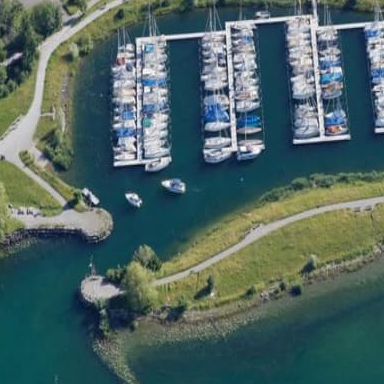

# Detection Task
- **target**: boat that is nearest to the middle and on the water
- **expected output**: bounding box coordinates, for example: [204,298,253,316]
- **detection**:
[161,179,187,193]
